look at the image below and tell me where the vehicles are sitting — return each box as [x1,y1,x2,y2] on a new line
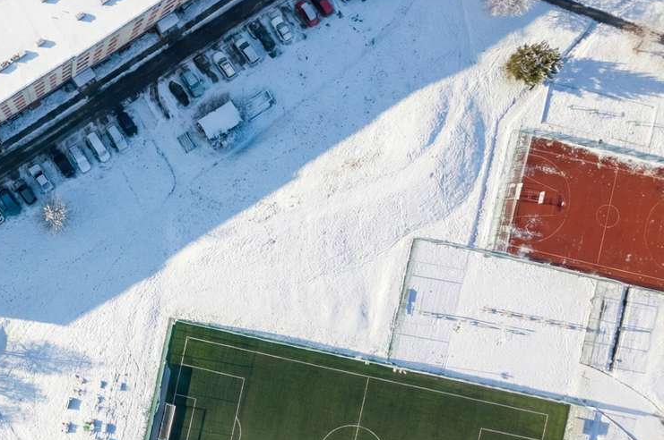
[312,0,333,16]
[250,19,273,49]
[54,150,76,177]
[69,143,92,174]
[31,165,55,194]
[86,130,111,162]
[116,109,140,138]
[294,0,319,28]
[214,53,235,79]
[181,71,204,97]
[17,178,38,206]
[104,121,129,151]
[0,185,21,215]
[236,37,261,67]
[270,12,293,41]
